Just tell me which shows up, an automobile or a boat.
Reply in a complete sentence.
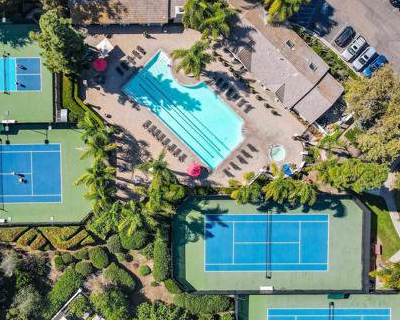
There is an automobile in the scene.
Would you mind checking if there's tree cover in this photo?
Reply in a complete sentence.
Yes, tree cover shows up in the scene.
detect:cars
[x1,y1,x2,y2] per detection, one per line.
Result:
[342,36,368,61]
[365,53,388,72]
[352,46,378,71]
[333,24,357,48]
[389,0,400,8]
